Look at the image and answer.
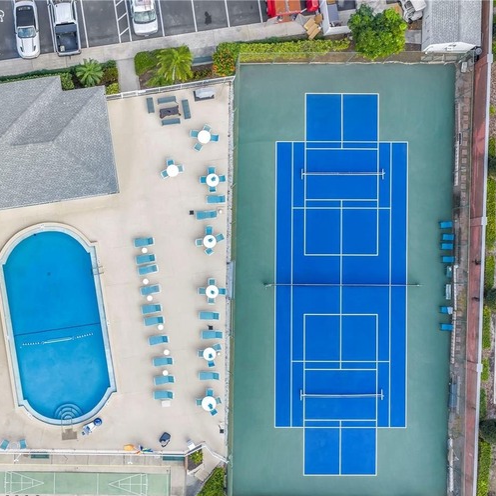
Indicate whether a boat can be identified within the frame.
No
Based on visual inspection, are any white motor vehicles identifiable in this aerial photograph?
Yes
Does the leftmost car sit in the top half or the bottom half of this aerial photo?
top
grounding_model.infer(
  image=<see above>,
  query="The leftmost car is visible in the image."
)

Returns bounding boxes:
[11,0,41,61]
